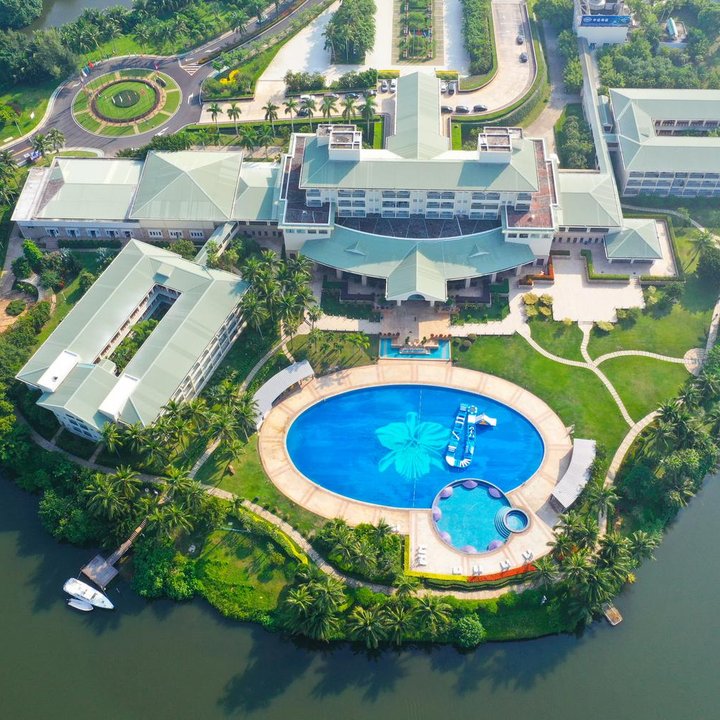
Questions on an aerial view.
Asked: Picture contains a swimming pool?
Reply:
Yes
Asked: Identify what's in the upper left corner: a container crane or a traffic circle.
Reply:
traffic circle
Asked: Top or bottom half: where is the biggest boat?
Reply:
bottom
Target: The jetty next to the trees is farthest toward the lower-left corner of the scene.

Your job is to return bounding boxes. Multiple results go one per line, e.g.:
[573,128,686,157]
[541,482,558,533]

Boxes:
[79,516,149,588]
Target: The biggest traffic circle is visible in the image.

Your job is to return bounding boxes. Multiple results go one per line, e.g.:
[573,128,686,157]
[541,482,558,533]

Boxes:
[71,68,181,137]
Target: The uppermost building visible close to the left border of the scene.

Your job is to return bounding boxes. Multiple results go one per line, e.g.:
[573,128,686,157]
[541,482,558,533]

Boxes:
[11,150,243,240]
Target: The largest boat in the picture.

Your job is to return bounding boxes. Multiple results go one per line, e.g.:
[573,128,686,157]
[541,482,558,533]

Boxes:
[62,575,113,608]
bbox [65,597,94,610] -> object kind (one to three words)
boat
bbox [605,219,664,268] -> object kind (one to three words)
building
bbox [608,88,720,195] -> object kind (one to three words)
building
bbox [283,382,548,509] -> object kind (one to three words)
swimming pool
